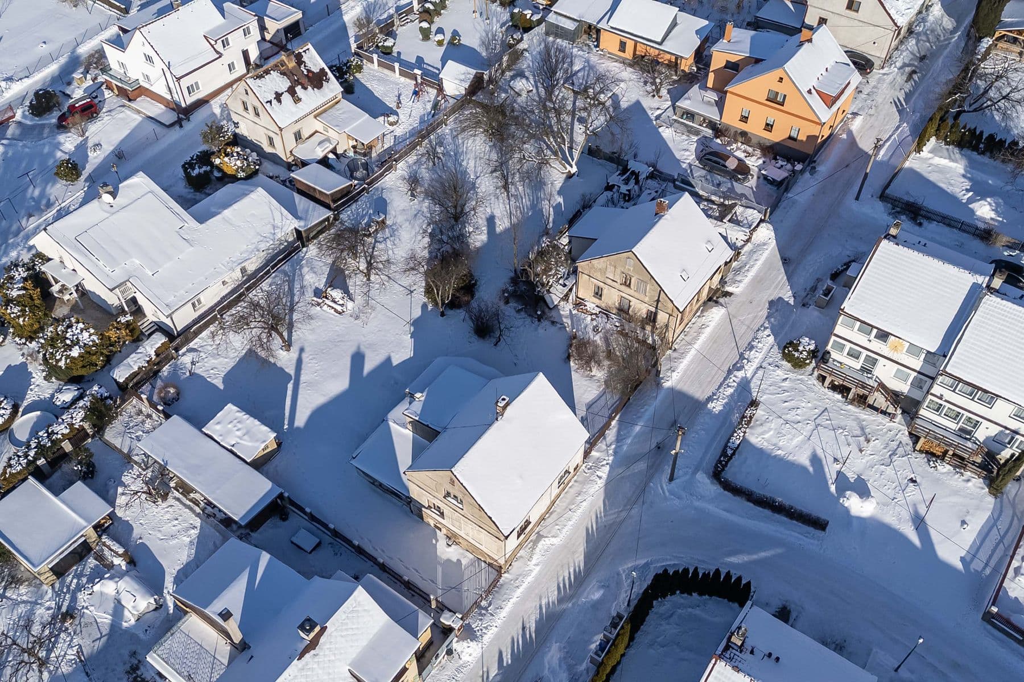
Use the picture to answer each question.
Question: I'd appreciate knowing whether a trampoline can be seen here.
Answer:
Yes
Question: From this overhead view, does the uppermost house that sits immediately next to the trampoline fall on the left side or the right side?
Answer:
left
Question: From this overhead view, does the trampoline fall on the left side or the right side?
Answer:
left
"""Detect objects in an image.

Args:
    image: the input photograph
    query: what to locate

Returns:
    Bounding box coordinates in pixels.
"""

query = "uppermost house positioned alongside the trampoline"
[225,44,389,167]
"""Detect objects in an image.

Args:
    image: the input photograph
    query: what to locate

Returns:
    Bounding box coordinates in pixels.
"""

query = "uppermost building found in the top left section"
[254,0,304,40]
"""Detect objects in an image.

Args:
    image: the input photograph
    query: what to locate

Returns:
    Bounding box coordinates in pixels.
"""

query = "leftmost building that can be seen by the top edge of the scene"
[98,0,270,114]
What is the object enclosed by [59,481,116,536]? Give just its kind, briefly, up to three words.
building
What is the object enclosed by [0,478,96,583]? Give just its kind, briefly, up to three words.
shed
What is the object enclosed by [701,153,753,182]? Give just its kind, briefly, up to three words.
car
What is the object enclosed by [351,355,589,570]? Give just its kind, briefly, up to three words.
house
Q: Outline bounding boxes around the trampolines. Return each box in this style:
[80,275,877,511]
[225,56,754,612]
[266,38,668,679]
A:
[341,151,371,184]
